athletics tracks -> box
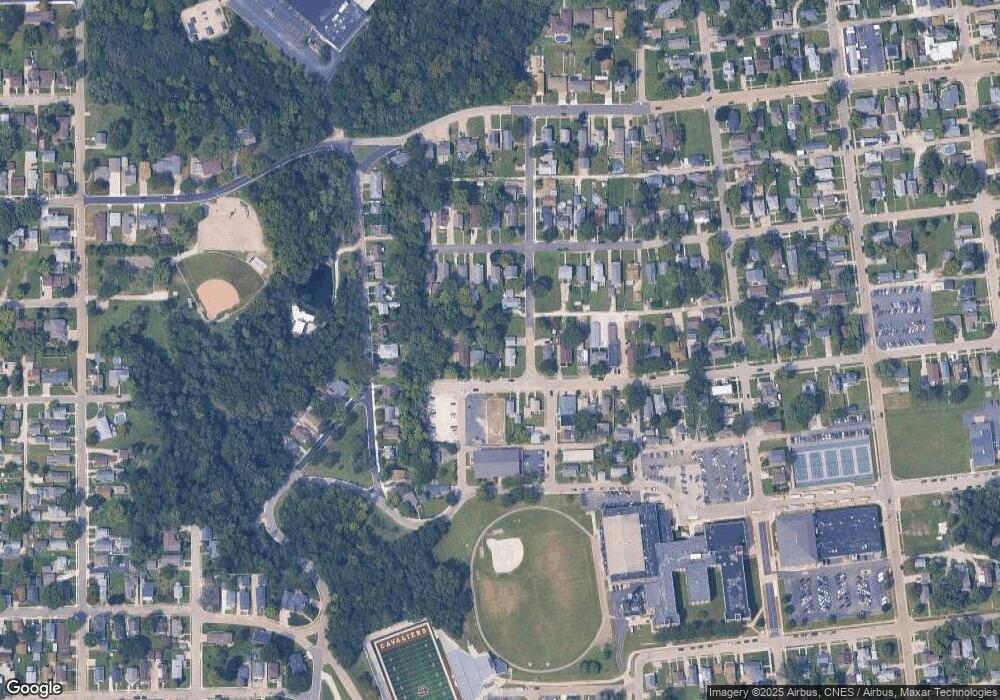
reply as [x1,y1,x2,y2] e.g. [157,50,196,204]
[471,506,604,672]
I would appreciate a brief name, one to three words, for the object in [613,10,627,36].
house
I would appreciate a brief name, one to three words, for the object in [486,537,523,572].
baseball field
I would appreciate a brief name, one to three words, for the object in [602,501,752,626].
building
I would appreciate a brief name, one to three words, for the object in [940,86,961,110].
house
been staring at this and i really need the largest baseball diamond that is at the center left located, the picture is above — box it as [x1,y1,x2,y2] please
[177,252,265,320]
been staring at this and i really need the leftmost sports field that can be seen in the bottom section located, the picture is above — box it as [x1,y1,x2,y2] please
[370,619,460,700]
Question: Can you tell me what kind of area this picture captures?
residential area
